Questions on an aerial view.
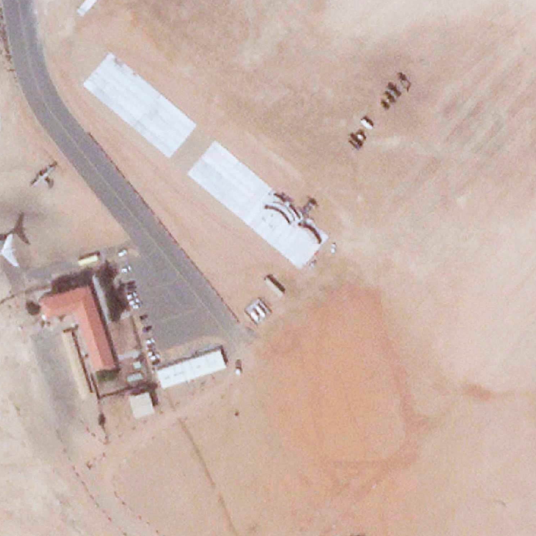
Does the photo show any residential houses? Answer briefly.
Yes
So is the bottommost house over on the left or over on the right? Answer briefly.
left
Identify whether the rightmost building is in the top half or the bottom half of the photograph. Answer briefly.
bottom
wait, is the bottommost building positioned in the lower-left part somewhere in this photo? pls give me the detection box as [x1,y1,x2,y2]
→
[130,389,155,419]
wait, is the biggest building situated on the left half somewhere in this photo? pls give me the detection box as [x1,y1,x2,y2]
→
[40,287,117,373]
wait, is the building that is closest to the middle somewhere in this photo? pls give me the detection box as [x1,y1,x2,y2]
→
[157,348,225,389]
